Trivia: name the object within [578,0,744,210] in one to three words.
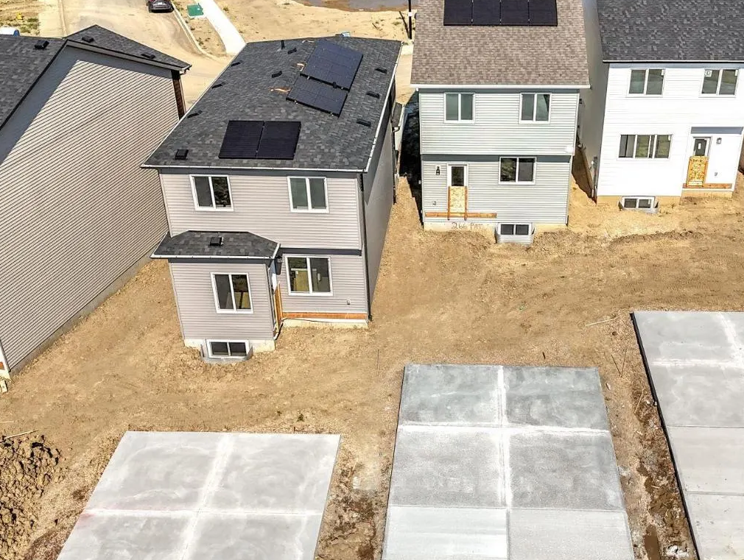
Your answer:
house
